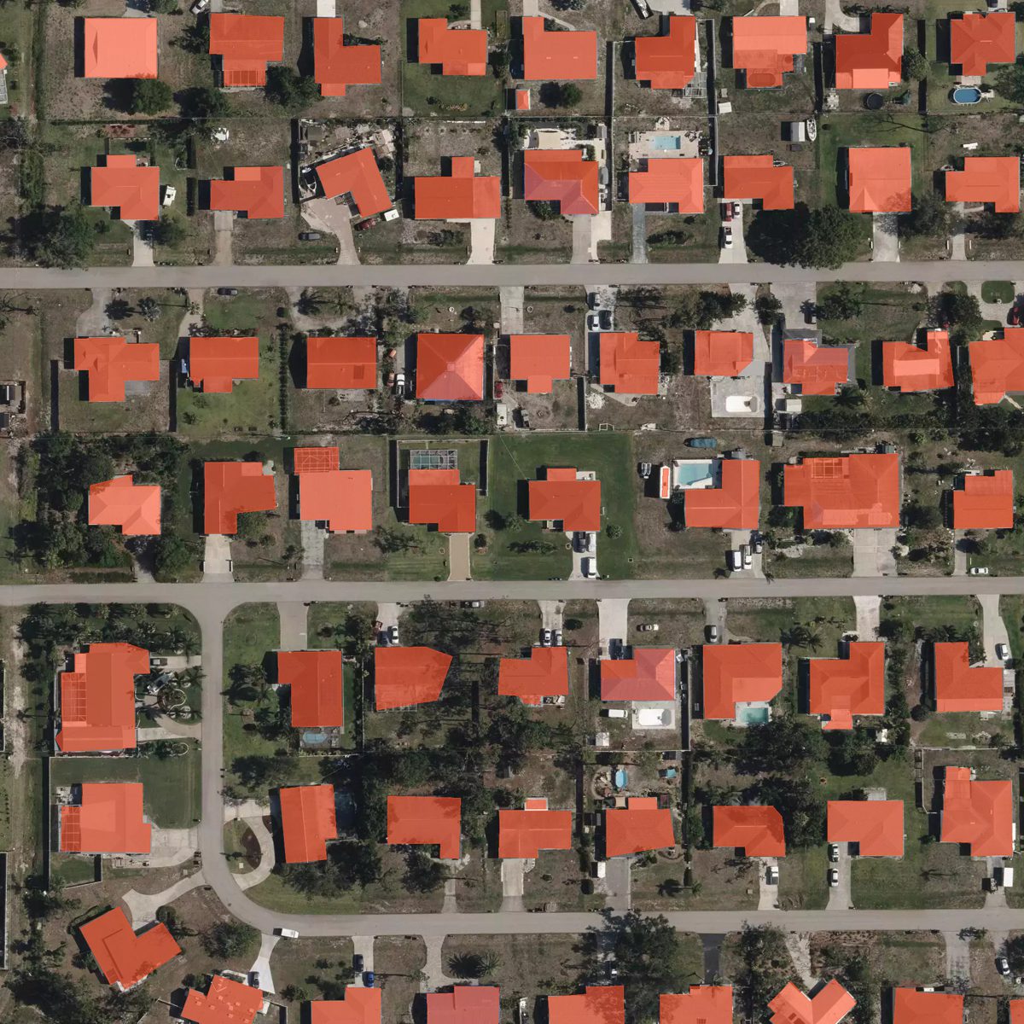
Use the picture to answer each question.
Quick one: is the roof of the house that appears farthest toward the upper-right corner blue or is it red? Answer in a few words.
red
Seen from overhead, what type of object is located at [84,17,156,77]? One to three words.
house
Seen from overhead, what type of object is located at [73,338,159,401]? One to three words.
house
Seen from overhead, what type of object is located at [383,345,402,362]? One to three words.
car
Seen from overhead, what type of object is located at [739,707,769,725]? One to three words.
swimming pool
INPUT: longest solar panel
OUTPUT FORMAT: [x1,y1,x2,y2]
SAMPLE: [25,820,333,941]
[823,510,858,525]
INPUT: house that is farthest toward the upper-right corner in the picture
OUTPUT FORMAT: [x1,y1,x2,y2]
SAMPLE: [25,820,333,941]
[952,12,1016,74]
